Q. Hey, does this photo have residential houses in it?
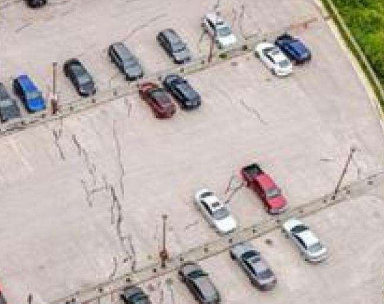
No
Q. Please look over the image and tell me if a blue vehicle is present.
Yes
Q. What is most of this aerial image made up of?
paved ground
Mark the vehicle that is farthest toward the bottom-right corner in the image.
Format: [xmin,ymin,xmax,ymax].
[284,218,326,268]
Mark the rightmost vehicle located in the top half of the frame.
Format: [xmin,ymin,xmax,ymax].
[275,27,314,70]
